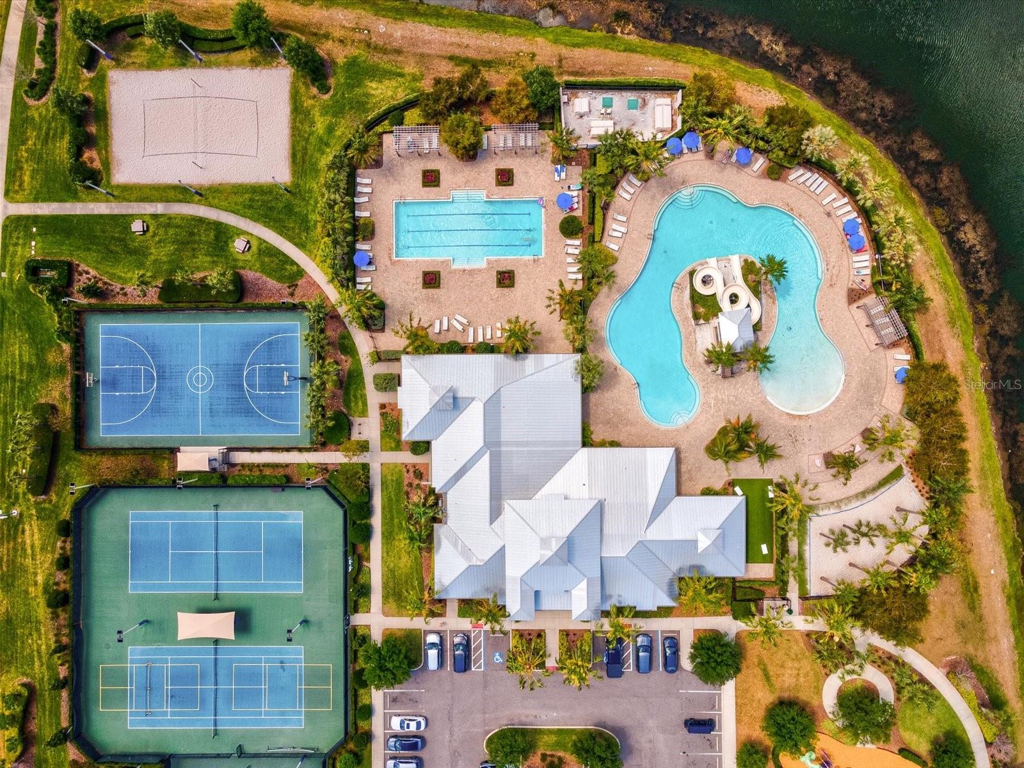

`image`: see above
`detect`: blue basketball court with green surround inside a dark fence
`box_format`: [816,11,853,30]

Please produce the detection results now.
[84,311,311,447]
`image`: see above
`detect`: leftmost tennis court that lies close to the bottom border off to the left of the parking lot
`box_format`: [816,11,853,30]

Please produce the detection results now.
[81,491,349,768]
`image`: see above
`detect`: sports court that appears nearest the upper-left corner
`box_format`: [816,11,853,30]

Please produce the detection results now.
[109,68,291,185]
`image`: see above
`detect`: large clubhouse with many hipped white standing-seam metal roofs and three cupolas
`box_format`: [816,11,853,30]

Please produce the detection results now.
[397,354,745,621]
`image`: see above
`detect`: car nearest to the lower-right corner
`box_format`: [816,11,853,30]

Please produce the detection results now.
[682,716,715,736]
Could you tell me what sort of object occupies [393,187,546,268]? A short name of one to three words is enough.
swimming pool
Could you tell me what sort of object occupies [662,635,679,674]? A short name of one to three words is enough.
car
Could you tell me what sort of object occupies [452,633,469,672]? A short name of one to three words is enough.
car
